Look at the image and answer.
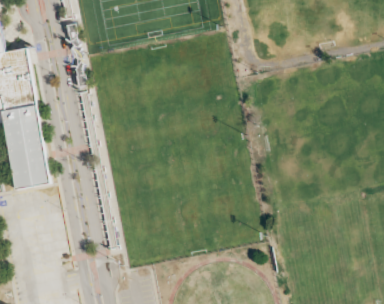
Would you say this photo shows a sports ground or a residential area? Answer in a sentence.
The area seen from above is a sports ground.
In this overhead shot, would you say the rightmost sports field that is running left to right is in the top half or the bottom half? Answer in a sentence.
It is in the top half that the rightmost sports field that is running left to right appears.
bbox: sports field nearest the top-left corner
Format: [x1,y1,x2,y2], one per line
[80,0,223,52]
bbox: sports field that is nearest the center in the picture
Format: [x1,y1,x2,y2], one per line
[90,30,266,268]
